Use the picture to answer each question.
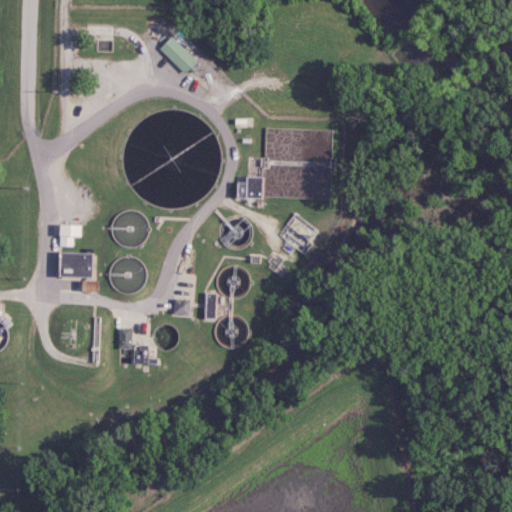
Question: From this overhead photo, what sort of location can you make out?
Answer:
industrial area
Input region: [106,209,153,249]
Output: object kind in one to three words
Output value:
storage tank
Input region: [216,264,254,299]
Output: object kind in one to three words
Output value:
storage tank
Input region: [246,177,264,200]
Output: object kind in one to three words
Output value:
building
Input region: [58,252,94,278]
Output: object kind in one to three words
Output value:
building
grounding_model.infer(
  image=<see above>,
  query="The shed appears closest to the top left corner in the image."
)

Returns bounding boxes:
[160,37,196,72]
